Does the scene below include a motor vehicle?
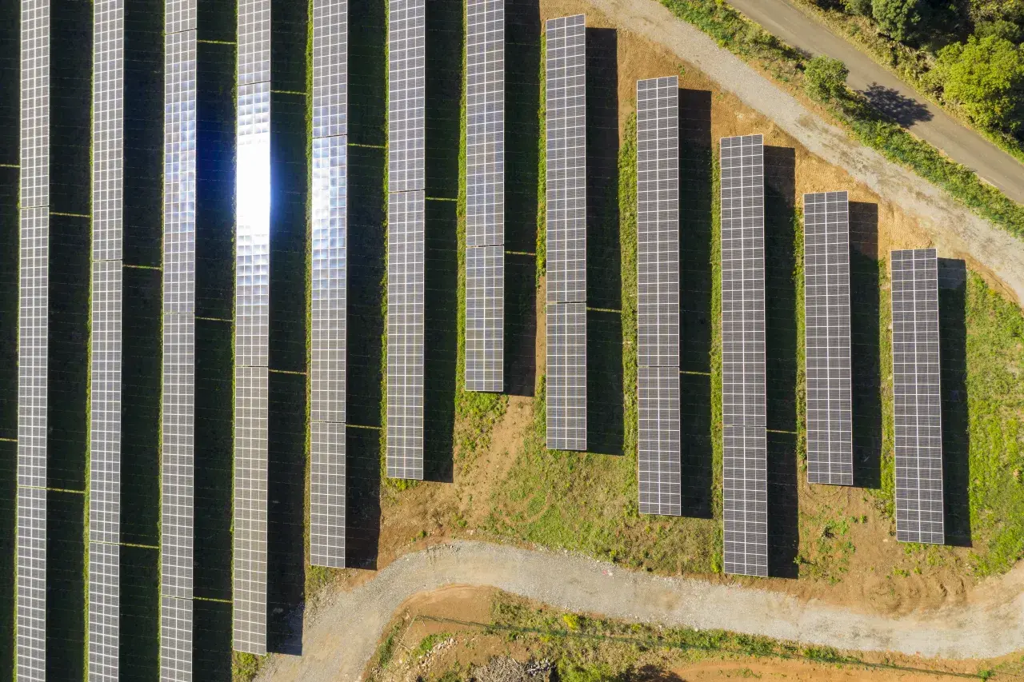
No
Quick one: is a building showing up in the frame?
No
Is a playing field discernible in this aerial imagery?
No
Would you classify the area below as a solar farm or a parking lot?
solar farm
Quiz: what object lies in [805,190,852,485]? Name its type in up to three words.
solar array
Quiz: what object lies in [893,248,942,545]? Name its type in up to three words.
solar array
